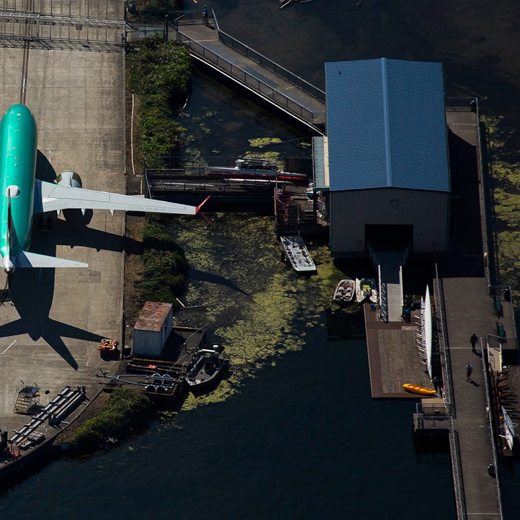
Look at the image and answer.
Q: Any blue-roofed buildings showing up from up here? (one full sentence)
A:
Yes, looking at the shot, I can spot a blue-roofed building.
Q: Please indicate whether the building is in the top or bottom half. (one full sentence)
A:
You can find the building in the top half.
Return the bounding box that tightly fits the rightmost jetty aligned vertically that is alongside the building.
[436,106,518,520]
